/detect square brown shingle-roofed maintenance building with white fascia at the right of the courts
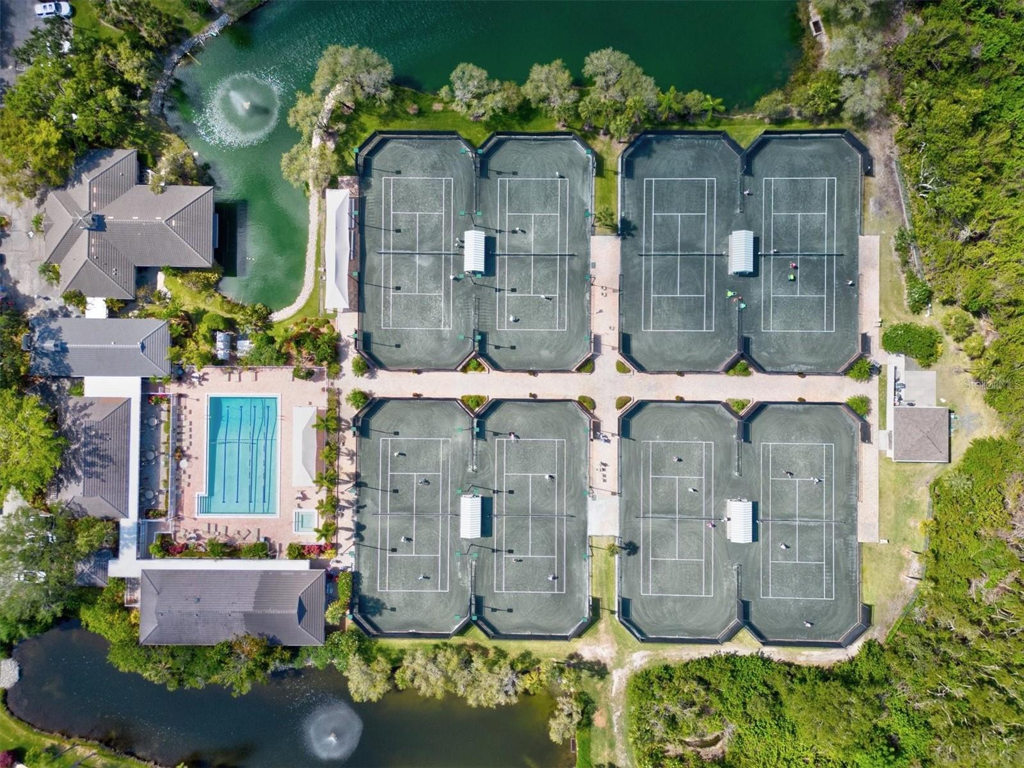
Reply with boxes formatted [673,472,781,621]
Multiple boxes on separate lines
[888,406,951,463]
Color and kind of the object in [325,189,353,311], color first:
white tent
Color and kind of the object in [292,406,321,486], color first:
white tent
